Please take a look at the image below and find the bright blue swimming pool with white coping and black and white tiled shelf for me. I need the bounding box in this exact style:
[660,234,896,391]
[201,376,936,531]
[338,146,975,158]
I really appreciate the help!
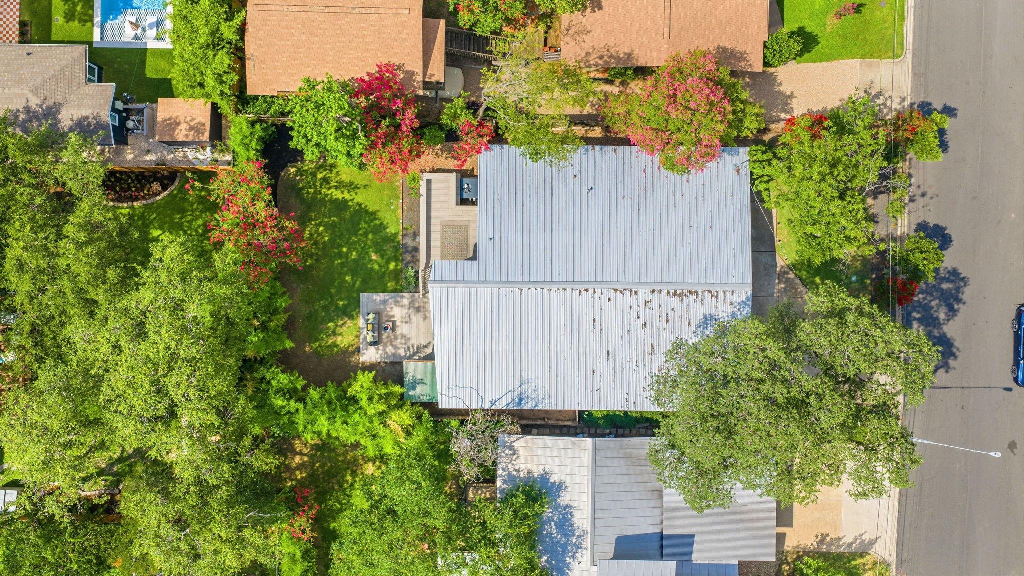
[94,0,173,49]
